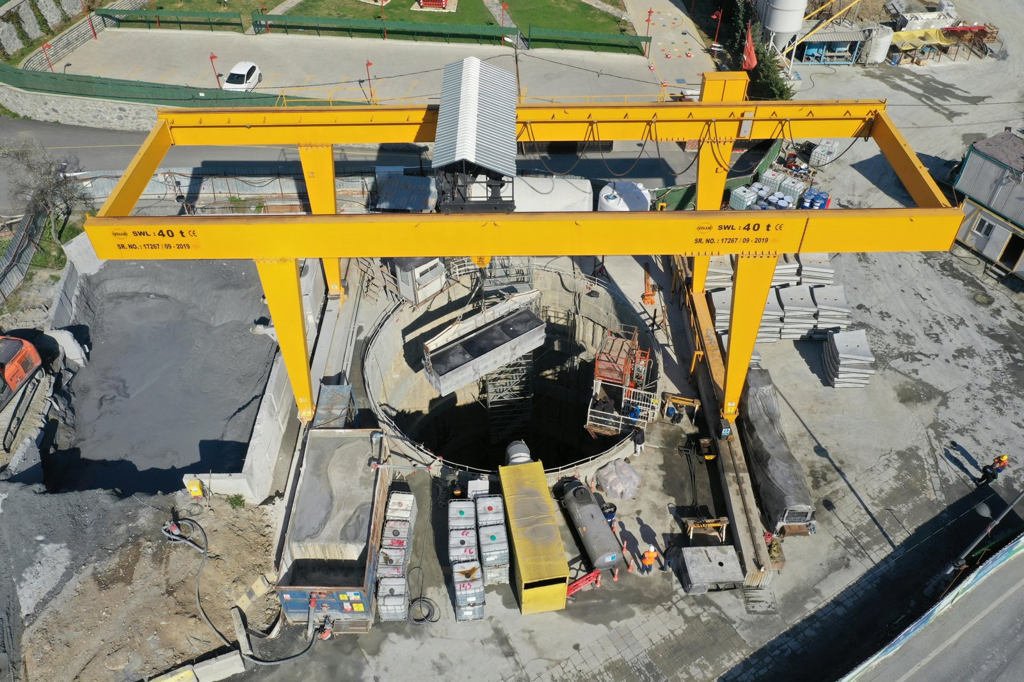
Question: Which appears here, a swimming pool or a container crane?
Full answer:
The one in the frame is a container crane.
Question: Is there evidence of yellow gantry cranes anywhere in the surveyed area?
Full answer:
Yes, this view includes a yellow gantry crane.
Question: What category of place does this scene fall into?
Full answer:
The picture captures an industrial area.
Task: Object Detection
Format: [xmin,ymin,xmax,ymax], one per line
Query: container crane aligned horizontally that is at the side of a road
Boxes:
[85,53,966,428]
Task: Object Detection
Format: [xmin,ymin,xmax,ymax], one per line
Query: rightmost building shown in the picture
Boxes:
[953,206,1024,301]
